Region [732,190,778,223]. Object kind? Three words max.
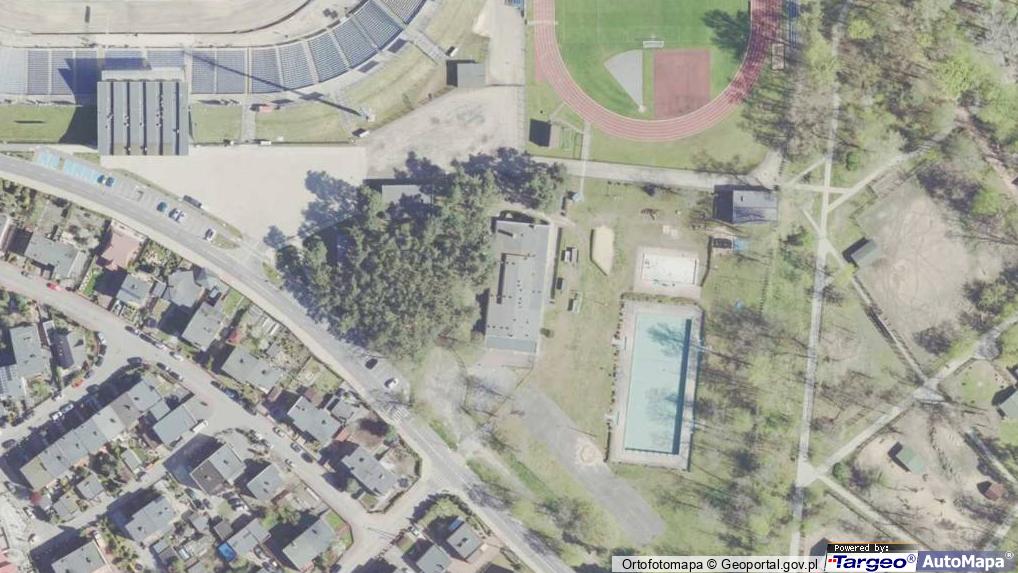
building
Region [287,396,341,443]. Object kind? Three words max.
house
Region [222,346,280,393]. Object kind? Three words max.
house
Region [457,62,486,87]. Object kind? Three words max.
building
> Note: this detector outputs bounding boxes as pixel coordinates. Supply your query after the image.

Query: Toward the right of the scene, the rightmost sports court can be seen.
[653,51,710,118]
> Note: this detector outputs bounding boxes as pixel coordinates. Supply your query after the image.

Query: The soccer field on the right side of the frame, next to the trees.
[557,0,749,118]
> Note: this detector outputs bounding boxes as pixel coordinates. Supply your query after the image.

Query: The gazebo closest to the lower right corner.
[987,483,1006,499]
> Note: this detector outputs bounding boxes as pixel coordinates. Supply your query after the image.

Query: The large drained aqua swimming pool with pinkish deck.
[608,303,704,472]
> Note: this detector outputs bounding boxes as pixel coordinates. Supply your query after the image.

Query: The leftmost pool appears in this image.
[218,543,236,562]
